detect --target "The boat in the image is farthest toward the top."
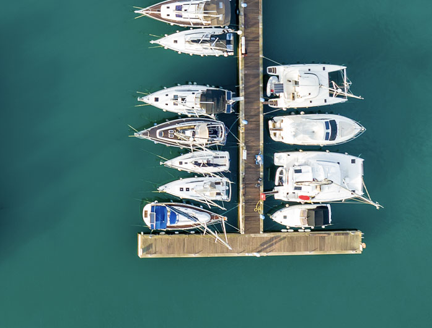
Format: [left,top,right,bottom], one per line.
[131,0,243,34]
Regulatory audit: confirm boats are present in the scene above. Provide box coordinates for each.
[134,117,242,153]
[275,166,285,188]
[132,82,244,119]
[264,111,370,147]
[262,150,383,203]
[131,0,243,34]
[147,147,238,183]
[139,25,243,59]
[156,175,240,207]
[266,202,337,232]
[262,60,366,111]
[130,201,242,243]
[266,76,278,96]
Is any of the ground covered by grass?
No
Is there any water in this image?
Yes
